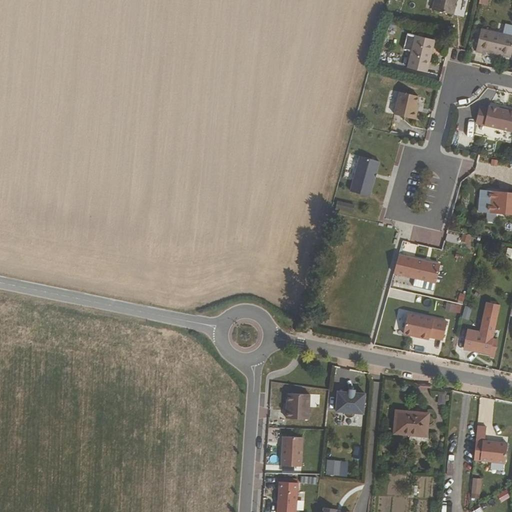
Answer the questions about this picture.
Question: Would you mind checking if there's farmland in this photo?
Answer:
Yes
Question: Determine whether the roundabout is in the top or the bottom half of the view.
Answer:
bottom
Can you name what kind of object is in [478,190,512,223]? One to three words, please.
house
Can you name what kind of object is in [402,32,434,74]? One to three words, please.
house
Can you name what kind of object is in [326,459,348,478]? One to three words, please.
shed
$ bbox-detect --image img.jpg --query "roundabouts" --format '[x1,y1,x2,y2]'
[211,304,282,376]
